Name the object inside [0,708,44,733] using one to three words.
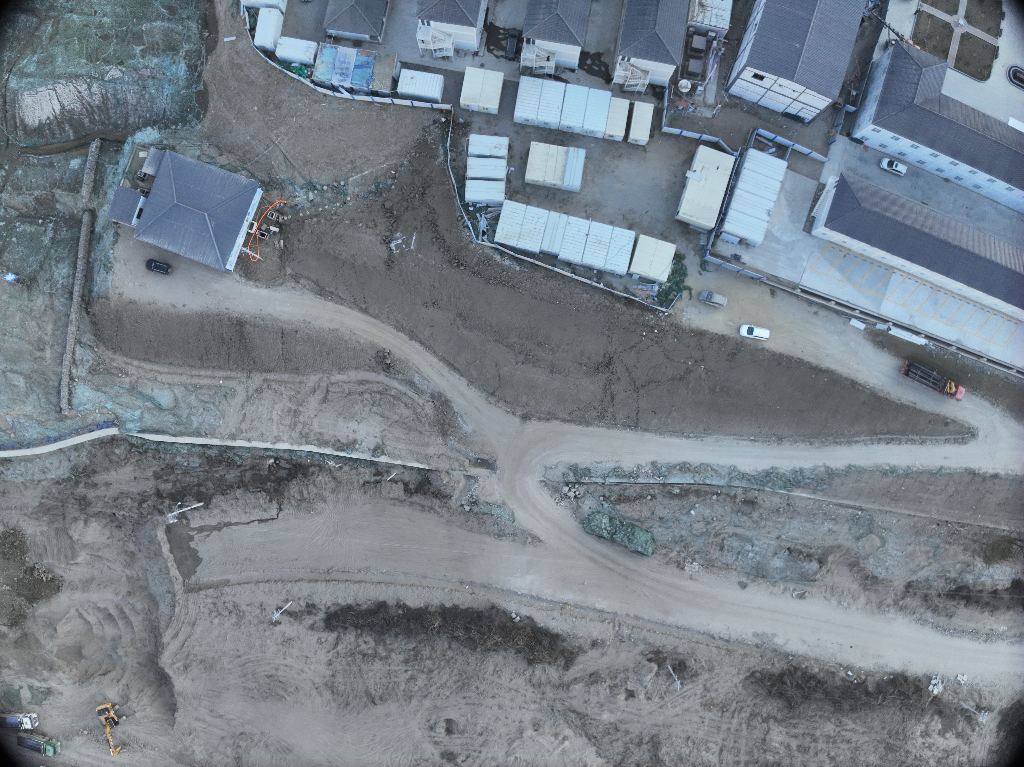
truck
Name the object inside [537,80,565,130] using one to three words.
building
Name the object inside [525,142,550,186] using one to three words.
building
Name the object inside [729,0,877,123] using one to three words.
warehouse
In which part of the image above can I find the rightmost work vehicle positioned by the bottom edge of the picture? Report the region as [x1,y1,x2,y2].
[96,700,130,754]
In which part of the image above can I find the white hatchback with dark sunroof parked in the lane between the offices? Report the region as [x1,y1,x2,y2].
[877,158,908,178]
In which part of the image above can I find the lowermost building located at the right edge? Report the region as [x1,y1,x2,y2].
[804,173,1024,321]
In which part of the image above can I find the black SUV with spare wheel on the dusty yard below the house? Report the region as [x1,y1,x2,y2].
[145,258,174,276]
